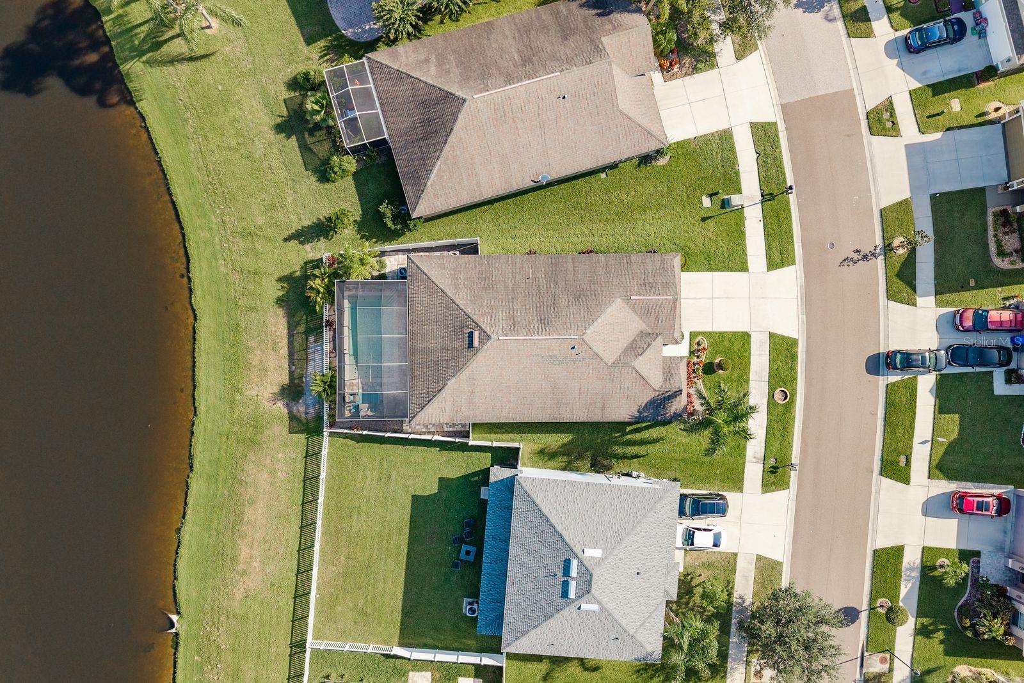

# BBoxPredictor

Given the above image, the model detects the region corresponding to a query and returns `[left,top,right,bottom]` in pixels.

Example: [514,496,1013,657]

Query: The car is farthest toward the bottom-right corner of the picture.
[947,489,1011,520]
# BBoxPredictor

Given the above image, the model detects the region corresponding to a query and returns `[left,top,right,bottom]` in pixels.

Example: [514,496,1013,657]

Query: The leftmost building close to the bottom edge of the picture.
[476,460,681,663]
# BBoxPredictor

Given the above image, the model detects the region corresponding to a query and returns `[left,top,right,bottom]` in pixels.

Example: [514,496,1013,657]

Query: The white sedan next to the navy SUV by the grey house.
[674,522,729,553]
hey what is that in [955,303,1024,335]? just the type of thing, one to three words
car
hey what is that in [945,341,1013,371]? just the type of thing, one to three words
car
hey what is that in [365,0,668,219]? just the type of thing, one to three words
house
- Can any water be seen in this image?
Yes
